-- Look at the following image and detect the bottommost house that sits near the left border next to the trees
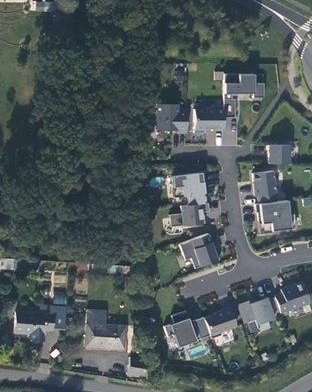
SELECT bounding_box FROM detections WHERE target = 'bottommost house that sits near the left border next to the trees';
[13,302,68,345]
